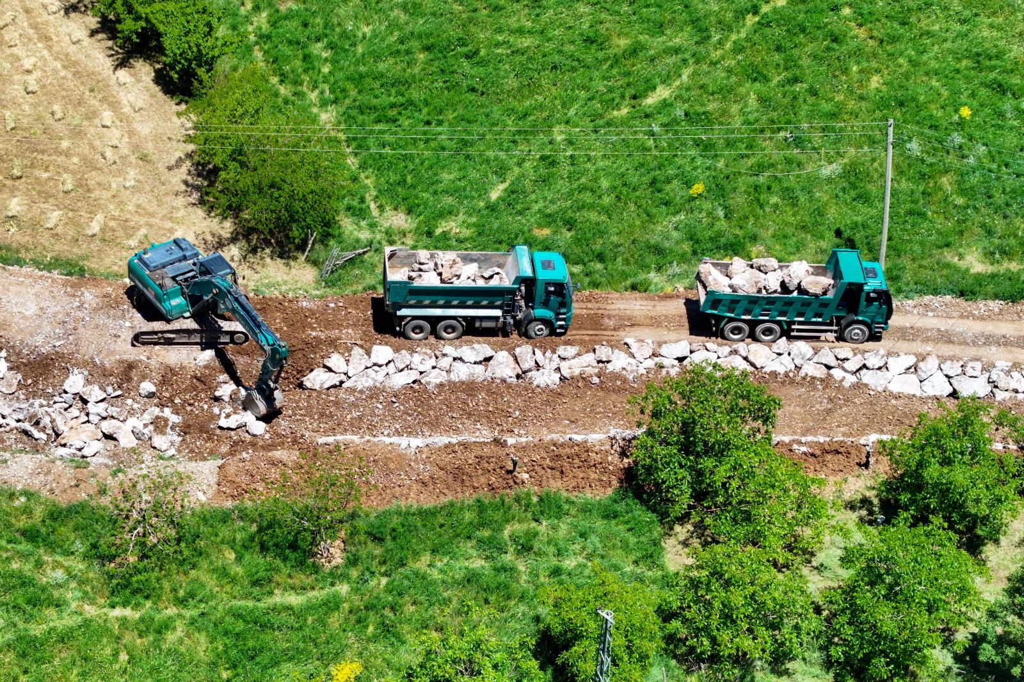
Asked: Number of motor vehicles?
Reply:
three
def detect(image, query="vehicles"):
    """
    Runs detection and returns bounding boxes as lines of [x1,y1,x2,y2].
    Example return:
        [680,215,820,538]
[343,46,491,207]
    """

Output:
[383,244,578,340]
[695,247,895,343]
[129,230,291,411]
